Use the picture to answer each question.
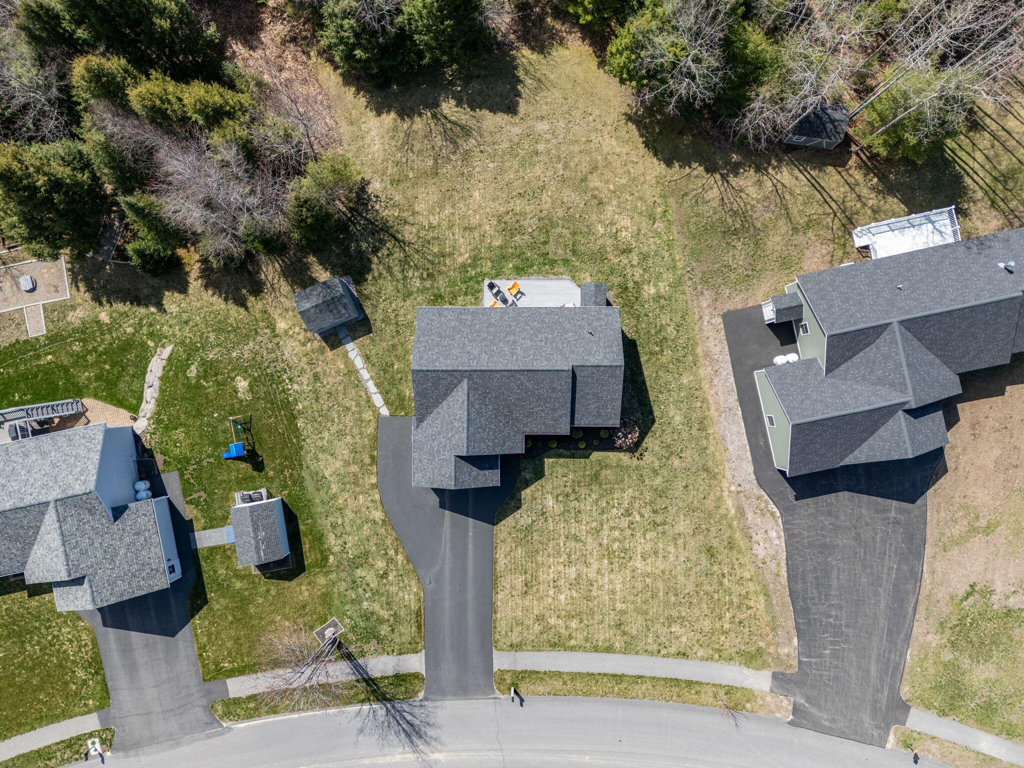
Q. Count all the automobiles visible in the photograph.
0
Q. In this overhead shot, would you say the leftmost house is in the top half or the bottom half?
bottom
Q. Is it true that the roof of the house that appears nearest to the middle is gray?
Yes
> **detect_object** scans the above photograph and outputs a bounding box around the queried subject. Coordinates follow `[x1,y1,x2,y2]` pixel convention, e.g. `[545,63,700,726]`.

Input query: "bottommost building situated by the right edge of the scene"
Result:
[755,228,1024,478]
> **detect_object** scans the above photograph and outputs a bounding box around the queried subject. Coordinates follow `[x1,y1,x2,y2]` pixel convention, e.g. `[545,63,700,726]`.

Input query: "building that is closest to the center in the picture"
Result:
[412,283,624,489]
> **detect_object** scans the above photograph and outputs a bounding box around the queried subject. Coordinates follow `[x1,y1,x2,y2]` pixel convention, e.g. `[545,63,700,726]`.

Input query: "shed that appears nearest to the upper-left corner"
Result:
[294,277,358,332]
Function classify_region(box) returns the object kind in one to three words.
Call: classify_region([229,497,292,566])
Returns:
shed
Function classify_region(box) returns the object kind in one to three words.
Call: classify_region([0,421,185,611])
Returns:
house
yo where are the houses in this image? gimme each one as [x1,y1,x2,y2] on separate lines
[412,283,624,489]
[0,421,185,611]
[755,228,1024,478]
